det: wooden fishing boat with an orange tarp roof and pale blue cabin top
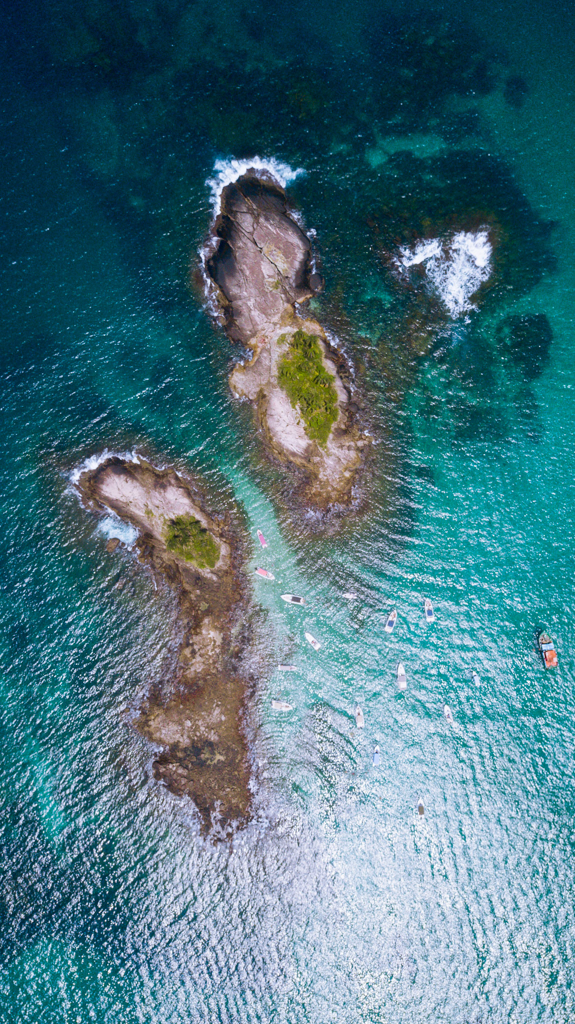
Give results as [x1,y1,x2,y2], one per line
[541,631,559,670]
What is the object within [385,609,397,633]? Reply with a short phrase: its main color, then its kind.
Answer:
white boat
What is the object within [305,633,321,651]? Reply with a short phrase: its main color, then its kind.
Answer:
white boat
